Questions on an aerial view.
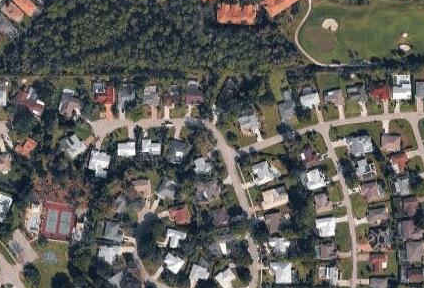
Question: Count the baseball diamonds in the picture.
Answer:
0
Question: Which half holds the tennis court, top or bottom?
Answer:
bottom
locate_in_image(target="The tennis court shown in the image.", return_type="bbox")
[40,200,76,241]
